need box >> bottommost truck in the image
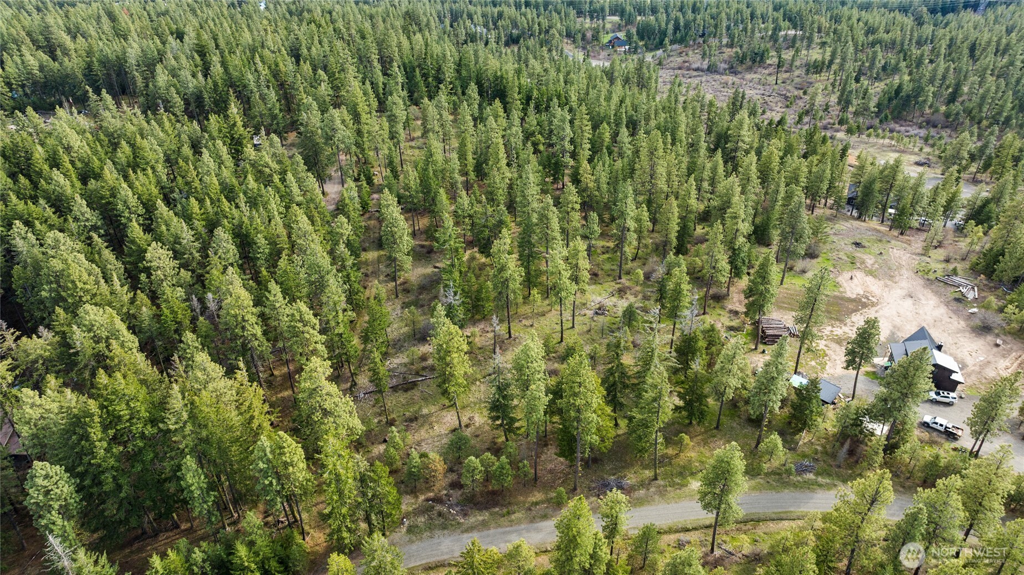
[921,413,964,437]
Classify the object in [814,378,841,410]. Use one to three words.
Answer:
shed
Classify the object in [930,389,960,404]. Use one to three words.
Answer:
car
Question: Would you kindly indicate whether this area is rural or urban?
rural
